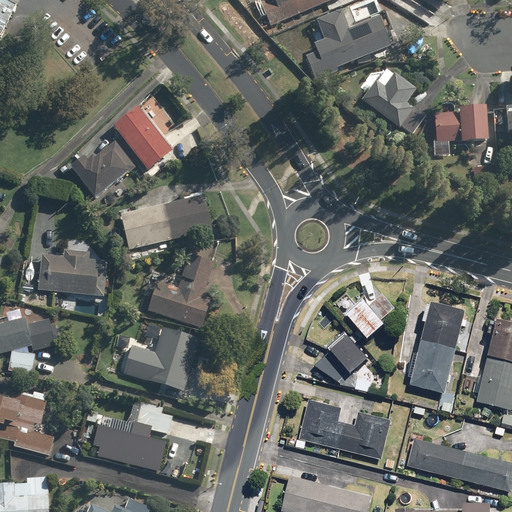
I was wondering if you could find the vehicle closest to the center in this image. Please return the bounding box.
[296,284,308,300]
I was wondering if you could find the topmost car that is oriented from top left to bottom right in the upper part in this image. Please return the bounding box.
[200,28,213,43]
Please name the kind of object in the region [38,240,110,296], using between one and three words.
house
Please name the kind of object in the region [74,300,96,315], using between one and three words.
swimming pool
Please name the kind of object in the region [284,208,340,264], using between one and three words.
roundabout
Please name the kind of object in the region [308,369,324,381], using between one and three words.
vehicle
